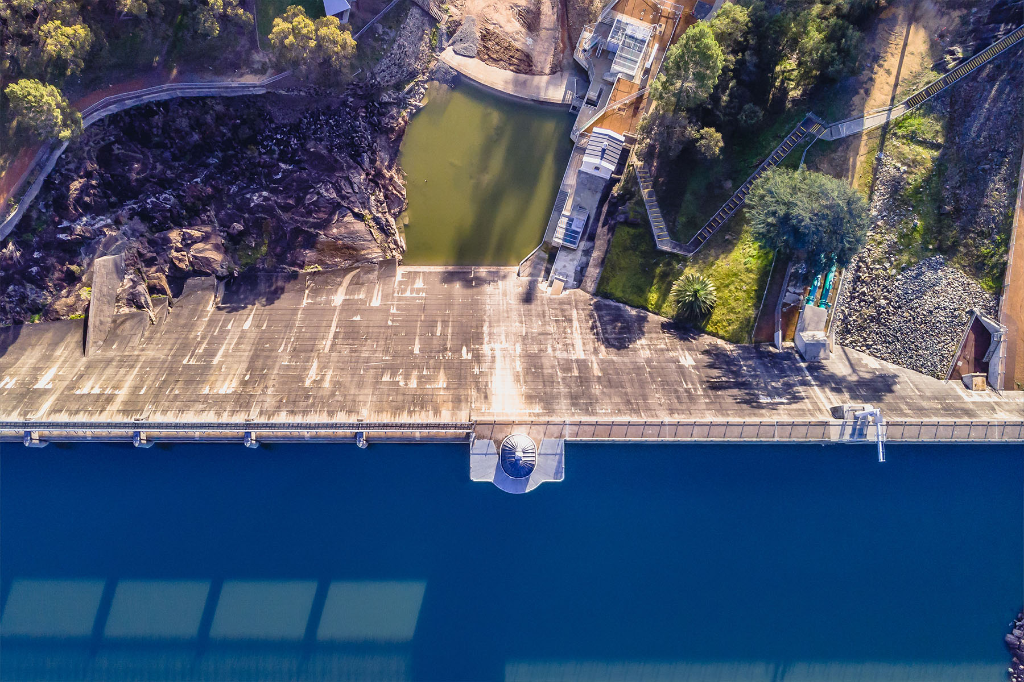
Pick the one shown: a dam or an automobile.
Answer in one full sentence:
There is a dam in the scene.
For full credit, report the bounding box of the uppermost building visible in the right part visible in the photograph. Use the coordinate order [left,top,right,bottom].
[604,16,653,81]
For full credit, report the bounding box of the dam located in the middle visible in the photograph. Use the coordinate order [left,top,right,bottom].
[0,255,1024,448]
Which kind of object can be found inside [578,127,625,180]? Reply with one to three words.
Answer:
building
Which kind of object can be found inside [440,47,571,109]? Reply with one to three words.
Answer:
dam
